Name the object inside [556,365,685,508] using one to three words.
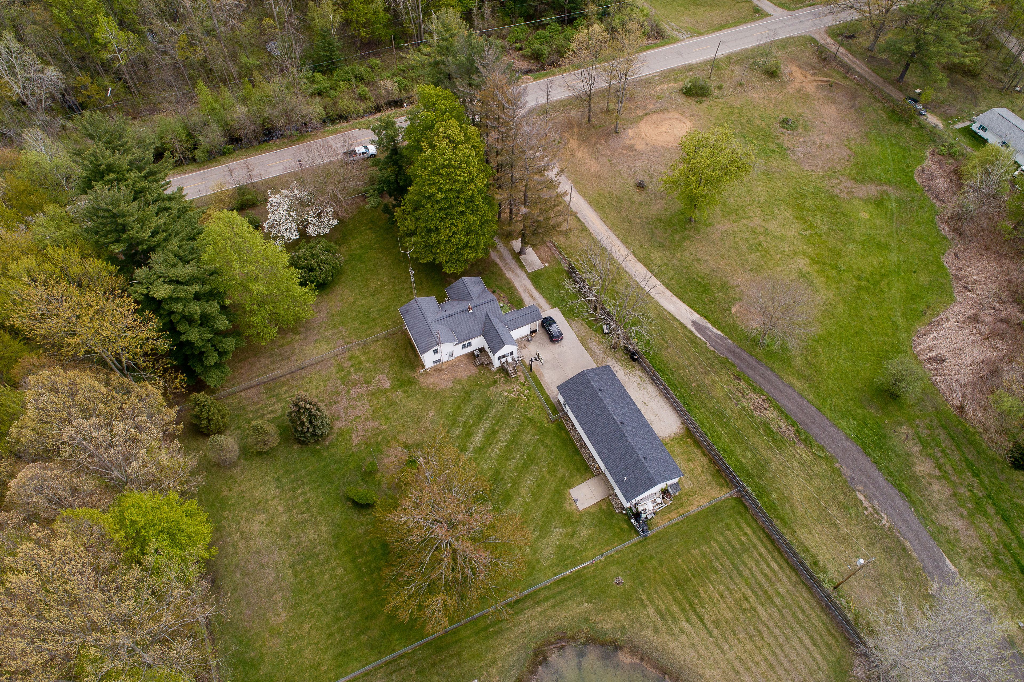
barn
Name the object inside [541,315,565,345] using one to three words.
car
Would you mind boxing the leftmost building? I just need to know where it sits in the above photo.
[399,277,543,372]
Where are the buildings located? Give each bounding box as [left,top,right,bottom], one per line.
[970,112,1024,172]
[399,277,543,372]
[556,365,685,508]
